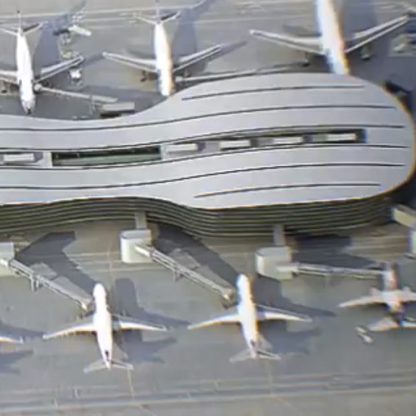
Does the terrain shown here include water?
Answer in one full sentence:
No, there is no water in the image.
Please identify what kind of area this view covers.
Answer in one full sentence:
This looks like an airport.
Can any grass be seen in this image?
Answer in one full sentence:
No, the scene doesn't show any grass.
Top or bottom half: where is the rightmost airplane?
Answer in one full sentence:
The rightmost airplane sits in the bottom half of the picture.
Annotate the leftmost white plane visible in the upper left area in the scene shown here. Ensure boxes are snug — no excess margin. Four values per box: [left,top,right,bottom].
[0,13,83,113]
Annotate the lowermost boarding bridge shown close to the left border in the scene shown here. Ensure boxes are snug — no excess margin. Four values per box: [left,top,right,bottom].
[2,254,95,312]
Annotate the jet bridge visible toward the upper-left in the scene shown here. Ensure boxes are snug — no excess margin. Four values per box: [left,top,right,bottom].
[32,81,116,111]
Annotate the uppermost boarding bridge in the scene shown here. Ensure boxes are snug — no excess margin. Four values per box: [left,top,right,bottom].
[172,60,302,85]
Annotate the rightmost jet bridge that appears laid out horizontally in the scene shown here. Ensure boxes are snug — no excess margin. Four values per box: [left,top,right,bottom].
[279,258,388,290]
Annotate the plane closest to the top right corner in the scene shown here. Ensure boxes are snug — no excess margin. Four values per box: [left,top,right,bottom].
[255,0,410,76]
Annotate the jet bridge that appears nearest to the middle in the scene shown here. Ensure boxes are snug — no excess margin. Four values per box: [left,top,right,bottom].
[139,240,238,302]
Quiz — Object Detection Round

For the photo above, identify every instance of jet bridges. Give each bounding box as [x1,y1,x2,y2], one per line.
[172,60,302,85]
[2,254,95,312]
[279,258,388,290]
[139,240,238,302]
[32,81,116,111]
